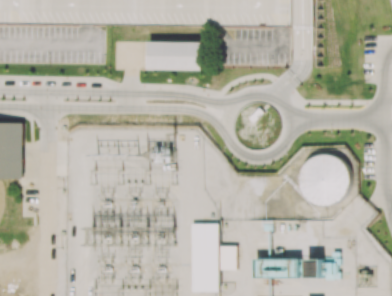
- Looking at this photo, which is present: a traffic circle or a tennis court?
traffic circle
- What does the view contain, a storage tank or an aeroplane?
storage tank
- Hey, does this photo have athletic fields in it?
No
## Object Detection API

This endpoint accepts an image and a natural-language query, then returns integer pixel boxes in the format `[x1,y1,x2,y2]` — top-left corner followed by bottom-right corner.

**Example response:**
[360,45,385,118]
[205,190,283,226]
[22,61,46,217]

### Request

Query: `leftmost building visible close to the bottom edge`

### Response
[193,223,240,292]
